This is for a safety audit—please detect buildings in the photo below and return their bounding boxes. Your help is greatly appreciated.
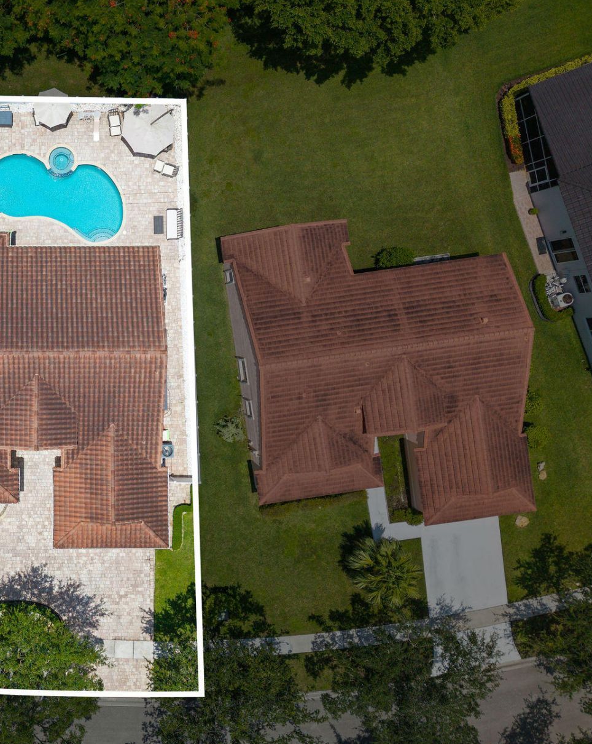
[0,231,172,551]
[217,220,538,527]
[528,62,592,378]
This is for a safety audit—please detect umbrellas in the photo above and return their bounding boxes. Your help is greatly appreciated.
[30,86,75,131]
[121,103,180,159]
